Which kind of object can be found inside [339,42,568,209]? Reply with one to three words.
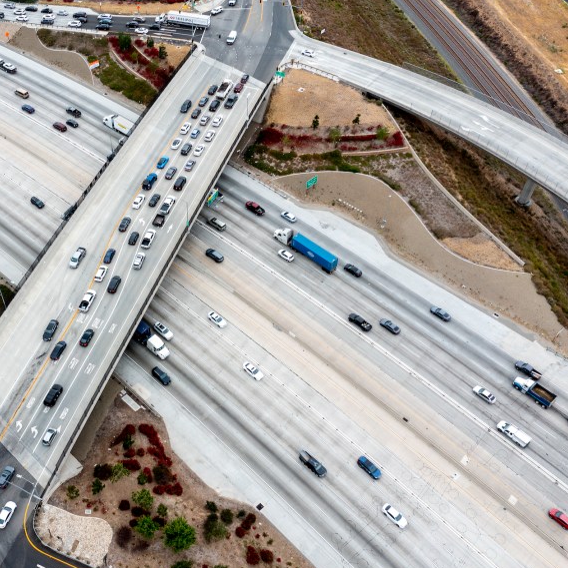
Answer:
bridge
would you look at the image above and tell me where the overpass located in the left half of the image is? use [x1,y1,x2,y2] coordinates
[0,39,269,496]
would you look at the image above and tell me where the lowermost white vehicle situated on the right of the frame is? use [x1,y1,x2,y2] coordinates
[380,503,409,530]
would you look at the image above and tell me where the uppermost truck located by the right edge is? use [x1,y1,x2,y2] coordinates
[513,358,544,382]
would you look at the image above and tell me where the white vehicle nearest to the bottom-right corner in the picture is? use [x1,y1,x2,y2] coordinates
[497,420,532,447]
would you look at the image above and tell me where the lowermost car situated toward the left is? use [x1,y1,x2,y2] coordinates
[0,500,17,531]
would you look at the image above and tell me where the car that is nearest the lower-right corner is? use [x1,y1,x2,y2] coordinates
[545,505,568,532]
